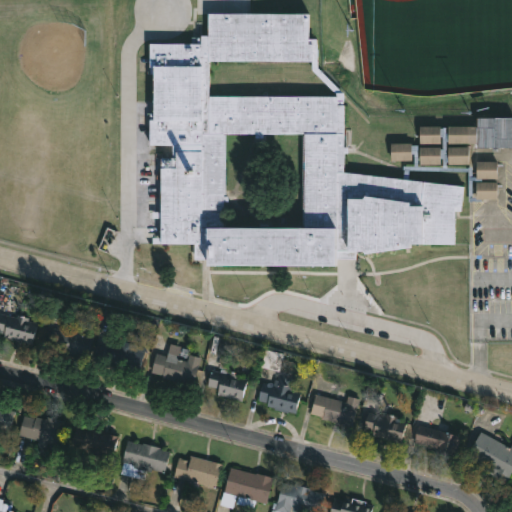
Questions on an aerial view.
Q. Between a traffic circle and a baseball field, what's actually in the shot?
baseball field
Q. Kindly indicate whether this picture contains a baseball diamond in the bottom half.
No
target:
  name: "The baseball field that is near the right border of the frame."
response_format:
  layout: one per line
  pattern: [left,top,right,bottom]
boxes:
[358,0,512,94]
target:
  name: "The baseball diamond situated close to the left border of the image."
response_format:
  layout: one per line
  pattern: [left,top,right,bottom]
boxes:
[20,22,86,92]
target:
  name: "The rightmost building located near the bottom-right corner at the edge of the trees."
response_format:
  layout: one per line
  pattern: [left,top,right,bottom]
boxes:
[476,436,512,478]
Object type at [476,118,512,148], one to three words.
shed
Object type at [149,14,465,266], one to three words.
building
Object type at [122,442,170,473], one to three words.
house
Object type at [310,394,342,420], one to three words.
house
